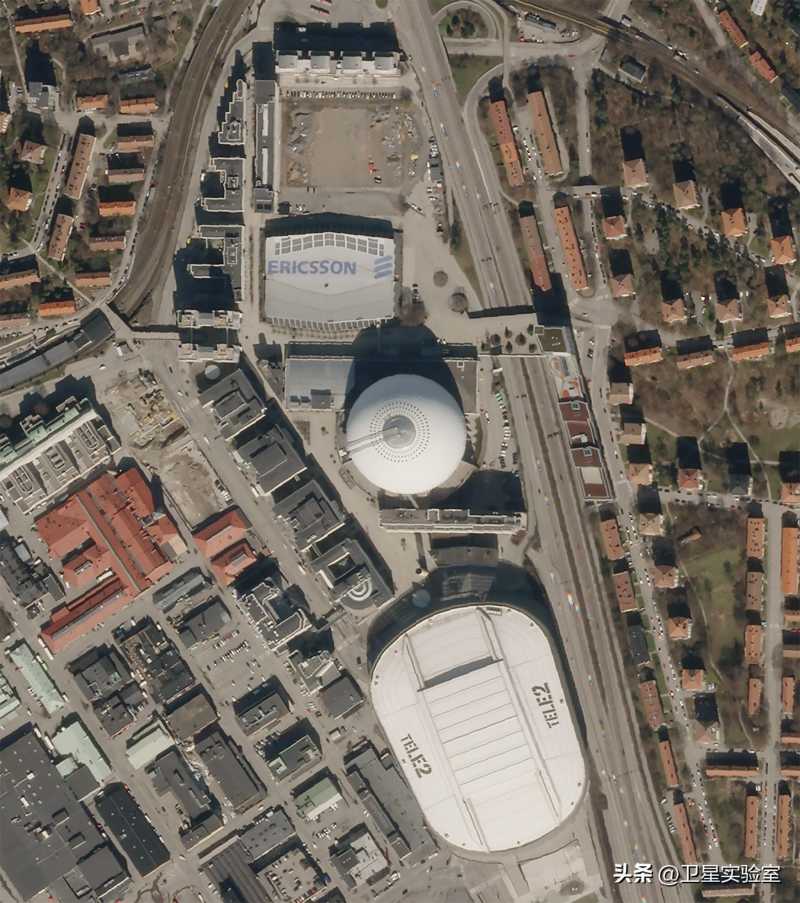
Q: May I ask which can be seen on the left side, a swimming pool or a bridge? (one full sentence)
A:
The one visible on the left side is a bridge.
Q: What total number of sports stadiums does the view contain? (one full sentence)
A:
In total, 2 sports stadiums can be seen.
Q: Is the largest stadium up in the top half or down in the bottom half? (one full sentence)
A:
The largest stadium sits in the bottom half of the picture.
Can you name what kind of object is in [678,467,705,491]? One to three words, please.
house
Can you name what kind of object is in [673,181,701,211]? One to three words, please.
house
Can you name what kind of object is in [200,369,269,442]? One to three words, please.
building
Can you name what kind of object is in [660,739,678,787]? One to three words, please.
building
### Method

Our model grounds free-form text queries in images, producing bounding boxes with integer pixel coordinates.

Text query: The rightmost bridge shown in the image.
[565,183,624,198]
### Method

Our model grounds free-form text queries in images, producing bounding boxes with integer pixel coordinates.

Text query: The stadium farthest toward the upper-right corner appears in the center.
[345,375,466,495]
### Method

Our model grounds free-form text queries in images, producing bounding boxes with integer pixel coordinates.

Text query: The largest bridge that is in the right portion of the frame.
[468,310,544,356]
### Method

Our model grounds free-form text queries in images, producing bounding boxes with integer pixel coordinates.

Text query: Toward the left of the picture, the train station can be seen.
[0,308,114,388]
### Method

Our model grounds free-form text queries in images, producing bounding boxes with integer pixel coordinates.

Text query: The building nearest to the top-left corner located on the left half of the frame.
[16,15,73,33]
